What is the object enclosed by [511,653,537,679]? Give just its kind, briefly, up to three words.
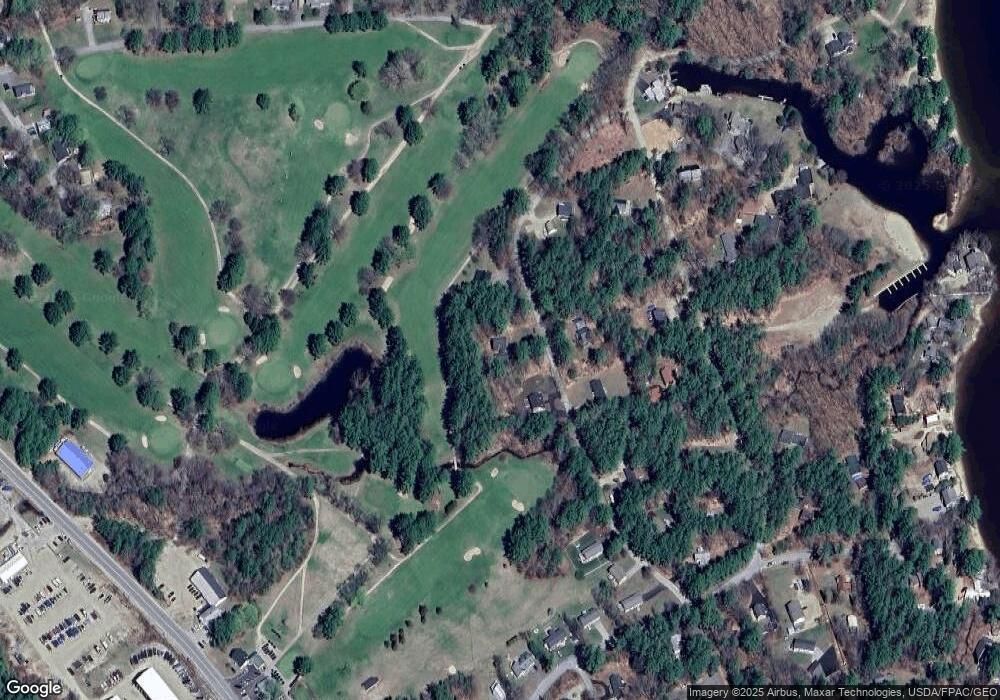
house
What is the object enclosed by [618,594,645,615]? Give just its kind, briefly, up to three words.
house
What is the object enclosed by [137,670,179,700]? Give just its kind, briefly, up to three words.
building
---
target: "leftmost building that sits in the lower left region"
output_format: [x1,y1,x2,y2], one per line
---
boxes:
[0,550,30,587]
